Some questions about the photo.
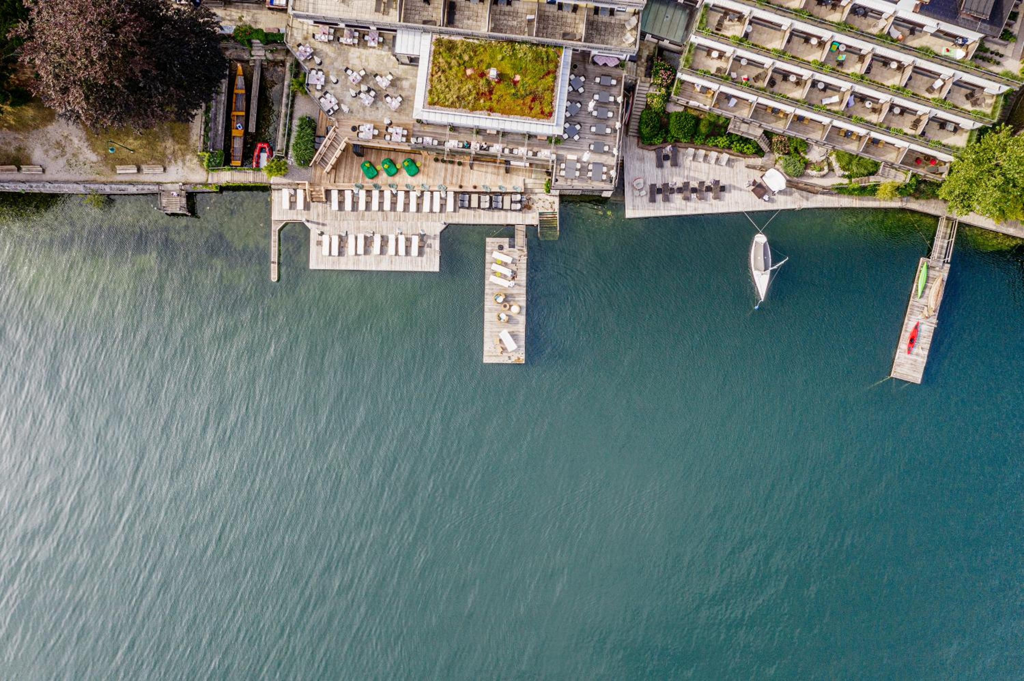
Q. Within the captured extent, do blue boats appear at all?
No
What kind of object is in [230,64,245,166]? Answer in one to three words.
boat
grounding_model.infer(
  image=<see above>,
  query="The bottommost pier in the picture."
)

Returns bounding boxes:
[890,258,950,384]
